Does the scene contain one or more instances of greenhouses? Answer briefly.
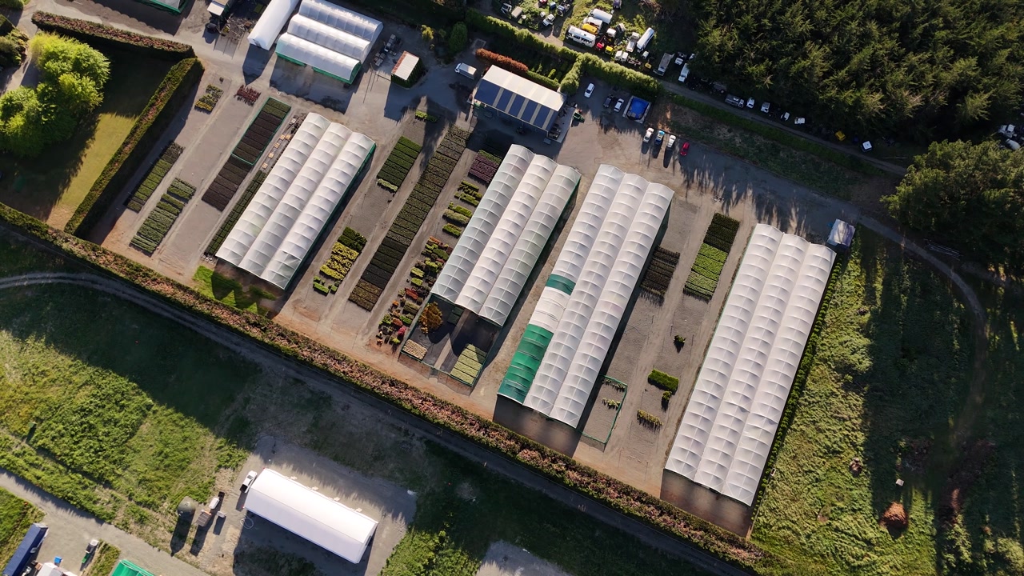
Yes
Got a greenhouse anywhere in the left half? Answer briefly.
Yes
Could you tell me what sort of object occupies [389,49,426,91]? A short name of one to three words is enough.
shed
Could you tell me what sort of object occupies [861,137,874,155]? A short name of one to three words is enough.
vehicle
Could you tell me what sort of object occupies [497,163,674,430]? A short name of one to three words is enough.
greenhouse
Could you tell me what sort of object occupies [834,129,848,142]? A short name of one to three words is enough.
vehicle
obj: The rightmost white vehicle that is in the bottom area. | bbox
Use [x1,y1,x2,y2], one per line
[240,469,258,491]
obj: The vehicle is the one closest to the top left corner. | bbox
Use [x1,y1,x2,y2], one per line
[456,63,477,79]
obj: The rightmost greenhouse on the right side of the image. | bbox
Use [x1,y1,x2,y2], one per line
[663,223,836,507]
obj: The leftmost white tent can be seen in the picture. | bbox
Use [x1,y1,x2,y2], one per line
[243,468,379,564]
